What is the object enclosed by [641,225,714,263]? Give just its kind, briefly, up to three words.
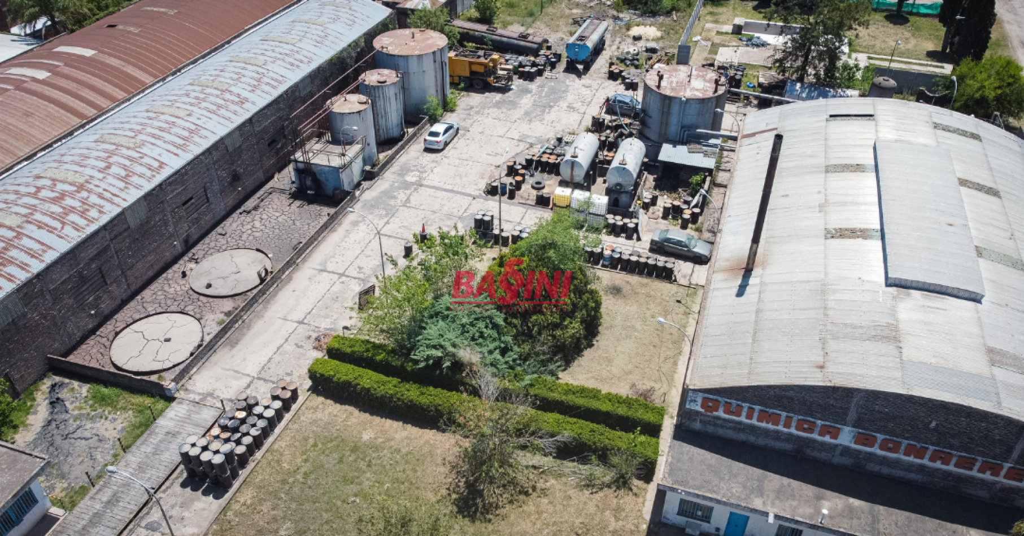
car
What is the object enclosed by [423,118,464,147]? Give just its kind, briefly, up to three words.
car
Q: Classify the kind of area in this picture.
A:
industrial area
